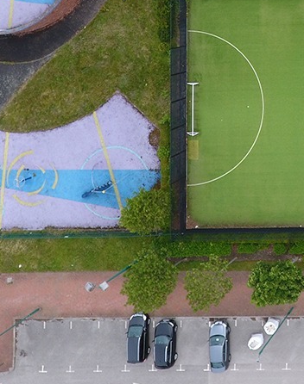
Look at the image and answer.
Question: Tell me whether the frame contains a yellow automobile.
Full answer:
No, there is no yellow automobile in the image.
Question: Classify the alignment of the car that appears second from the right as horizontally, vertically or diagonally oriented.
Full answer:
I'd say the car that appears second from the right is aligned vertically in the picture.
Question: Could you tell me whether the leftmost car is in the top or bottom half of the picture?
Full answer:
The leftmost car sits in the bottom half of the picture.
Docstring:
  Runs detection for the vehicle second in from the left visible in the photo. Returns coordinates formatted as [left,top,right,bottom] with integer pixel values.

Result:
[150,318,176,369]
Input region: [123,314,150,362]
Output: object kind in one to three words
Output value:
car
